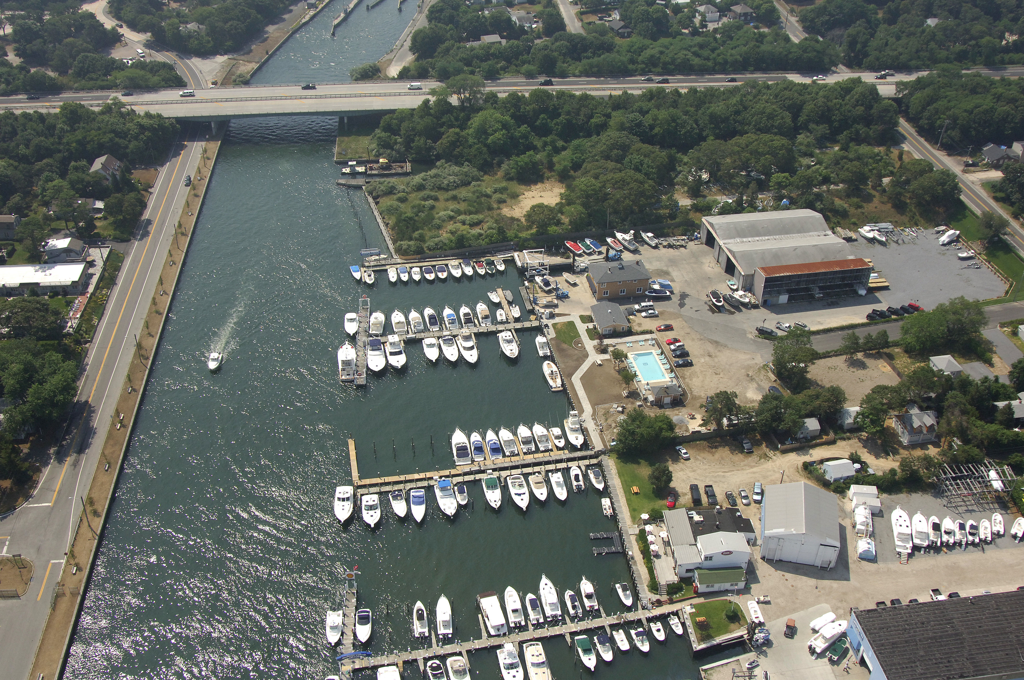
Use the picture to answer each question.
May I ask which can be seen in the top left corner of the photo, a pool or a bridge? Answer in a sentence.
There is a bridge in the top left corner of the photo.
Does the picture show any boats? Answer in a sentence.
Yes, the photo shows a boat.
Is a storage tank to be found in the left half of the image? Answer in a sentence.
No, no storage tank appears in the left half of the image.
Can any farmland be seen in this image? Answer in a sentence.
No, no farmland is visible.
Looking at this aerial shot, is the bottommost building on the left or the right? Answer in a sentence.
The bottommost building sits on the right side.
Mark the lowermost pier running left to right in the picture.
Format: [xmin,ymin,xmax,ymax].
[352,600,653,676]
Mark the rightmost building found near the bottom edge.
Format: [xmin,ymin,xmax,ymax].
[844,588,1024,680]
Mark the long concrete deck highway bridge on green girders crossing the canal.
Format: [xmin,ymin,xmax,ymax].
[127,76,411,136]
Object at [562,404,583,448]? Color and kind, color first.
white boat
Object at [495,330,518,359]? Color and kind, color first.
white boat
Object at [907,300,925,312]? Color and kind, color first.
red vehicle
